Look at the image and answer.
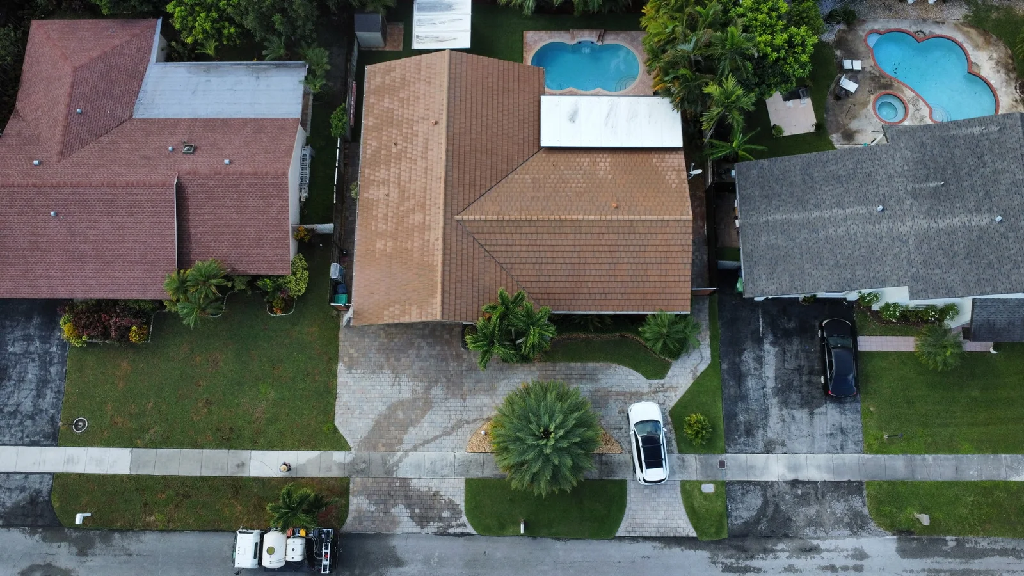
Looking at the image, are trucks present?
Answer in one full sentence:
Yes, there's a truck here.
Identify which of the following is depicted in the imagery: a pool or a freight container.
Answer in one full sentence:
The image shows a pool.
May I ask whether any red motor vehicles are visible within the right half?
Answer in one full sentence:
No, no red motor vehicle is visible within the right half.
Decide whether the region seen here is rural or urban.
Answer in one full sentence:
The land in this view is best described as urban.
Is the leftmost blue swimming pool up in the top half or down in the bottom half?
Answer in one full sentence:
Seen from above, the leftmost blue swimming pool lies in the top half of the view.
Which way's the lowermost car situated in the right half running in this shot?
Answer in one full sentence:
What the image shows is the lowermost car situated in the right half lying up and down.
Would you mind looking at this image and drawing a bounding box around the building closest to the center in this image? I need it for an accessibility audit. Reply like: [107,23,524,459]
[350,50,692,326]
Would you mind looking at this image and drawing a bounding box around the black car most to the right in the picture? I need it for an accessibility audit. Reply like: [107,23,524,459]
[816,318,861,398]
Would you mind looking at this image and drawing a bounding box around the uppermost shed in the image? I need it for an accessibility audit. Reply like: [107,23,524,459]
[354,13,386,48]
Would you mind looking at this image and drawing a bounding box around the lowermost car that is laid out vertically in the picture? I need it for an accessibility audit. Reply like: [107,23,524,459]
[628,400,672,486]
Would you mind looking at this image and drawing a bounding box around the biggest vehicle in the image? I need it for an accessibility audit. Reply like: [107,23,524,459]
[229,520,343,575]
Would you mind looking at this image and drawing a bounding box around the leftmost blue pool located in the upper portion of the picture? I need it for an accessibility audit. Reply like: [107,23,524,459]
[529,39,642,94]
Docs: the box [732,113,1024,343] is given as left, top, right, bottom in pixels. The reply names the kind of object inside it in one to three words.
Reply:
house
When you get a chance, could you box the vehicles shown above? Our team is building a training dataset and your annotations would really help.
[229,520,343,575]
[628,400,672,486]
[816,318,861,398]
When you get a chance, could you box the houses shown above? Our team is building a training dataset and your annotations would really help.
[732,113,1024,343]
[0,17,309,299]
[350,50,692,326]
